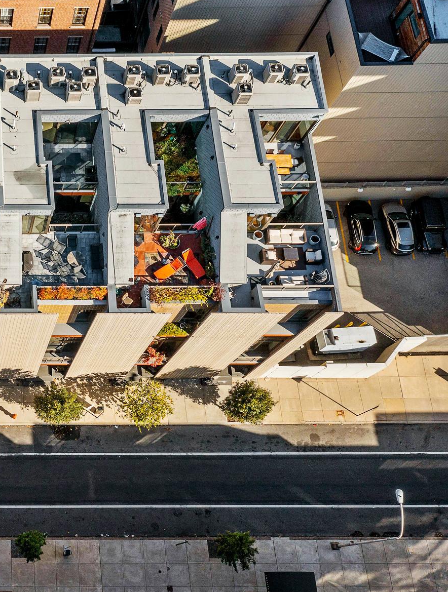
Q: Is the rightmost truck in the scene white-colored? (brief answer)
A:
No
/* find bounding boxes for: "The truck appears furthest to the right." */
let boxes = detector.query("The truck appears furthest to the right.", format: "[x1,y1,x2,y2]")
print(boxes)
[407,196,448,266]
